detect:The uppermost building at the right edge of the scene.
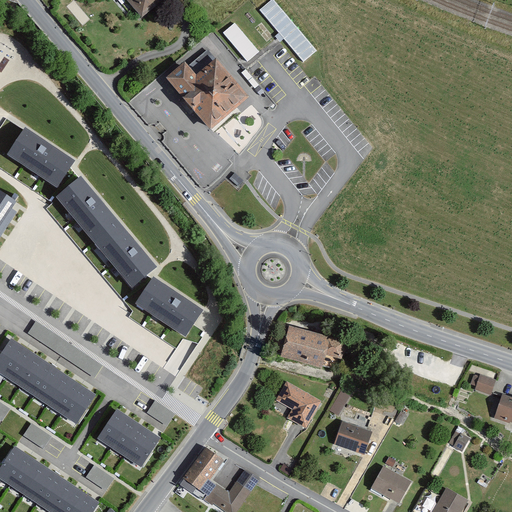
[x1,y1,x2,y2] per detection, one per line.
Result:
[471,374,496,395]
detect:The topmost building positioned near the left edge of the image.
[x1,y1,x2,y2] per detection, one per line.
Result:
[6,127,74,187]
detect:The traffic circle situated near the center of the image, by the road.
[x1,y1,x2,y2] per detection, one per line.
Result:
[237,233,310,306]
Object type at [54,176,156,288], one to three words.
building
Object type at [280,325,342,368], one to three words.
house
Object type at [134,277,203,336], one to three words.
building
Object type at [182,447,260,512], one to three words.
house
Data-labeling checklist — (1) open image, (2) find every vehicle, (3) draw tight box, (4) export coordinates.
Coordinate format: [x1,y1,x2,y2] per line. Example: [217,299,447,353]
[214,432,224,442]
[284,166,296,172]
[297,184,308,188]
[258,72,269,82]
[134,356,148,372]
[22,280,32,290]
[284,128,294,139]
[266,82,276,92]
[332,487,338,498]
[284,58,295,66]
[304,126,314,136]
[274,138,285,150]
[298,76,309,86]
[368,440,377,454]
[418,352,424,364]
[154,158,164,167]
[320,95,331,105]
[74,464,86,474]
[8,271,22,286]
[119,346,127,360]
[276,48,286,58]
[136,400,146,409]
[254,67,264,76]
[279,160,290,165]
[106,336,116,348]
[288,62,298,72]
[506,384,512,394]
